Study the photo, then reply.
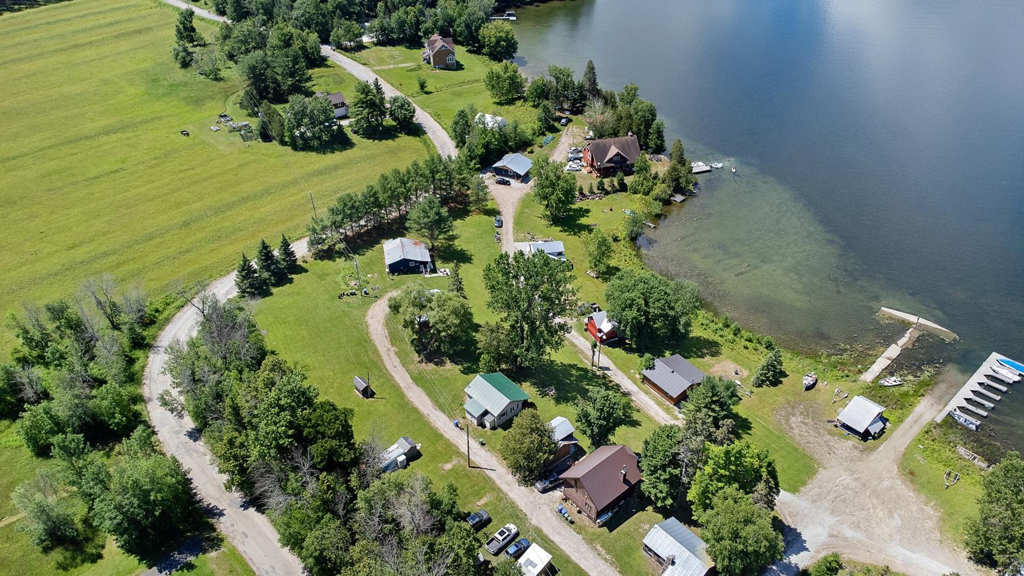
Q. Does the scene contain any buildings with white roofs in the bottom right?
Yes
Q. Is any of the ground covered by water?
Yes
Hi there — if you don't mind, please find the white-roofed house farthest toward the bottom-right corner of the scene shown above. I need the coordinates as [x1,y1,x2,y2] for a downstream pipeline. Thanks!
[837,395,885,446]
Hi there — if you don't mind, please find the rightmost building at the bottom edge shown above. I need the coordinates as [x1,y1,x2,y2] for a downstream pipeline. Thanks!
[639,519,718,576]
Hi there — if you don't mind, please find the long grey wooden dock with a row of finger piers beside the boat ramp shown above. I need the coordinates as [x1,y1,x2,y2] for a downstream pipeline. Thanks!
[933,352,1024,425]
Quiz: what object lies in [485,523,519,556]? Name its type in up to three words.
truck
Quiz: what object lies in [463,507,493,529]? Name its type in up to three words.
car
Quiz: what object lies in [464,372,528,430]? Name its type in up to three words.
house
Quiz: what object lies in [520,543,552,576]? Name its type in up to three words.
shed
